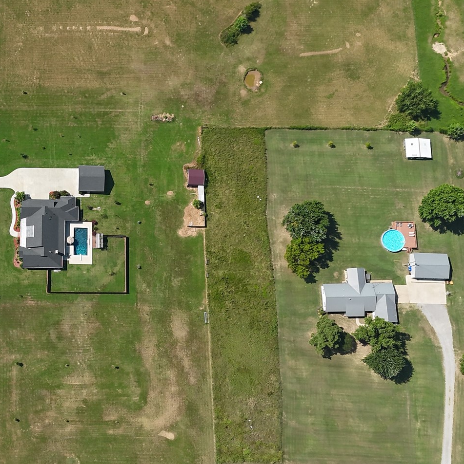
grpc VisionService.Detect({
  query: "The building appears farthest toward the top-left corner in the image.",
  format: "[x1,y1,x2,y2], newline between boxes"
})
[78,165,105,192]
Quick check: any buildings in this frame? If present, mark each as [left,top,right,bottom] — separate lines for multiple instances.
[78,165,105,192]
[410,253,451,280]
[402,137,432,160]
[187,169,205,186]
[19,196,78,268]
[321,267,397,322]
